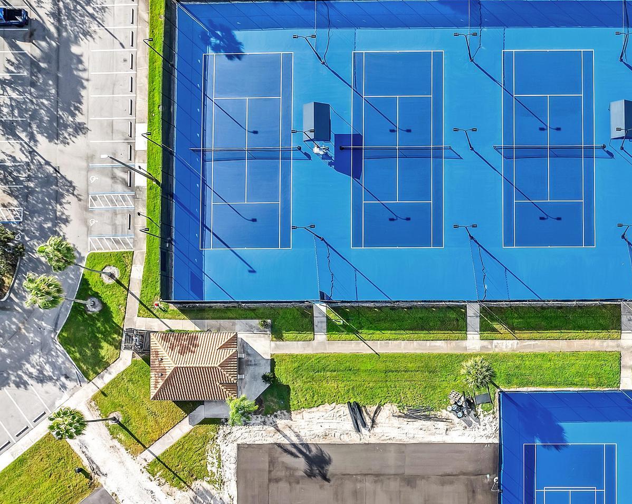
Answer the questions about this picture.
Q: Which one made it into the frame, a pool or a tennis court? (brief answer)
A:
tennis court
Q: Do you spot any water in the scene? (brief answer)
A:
No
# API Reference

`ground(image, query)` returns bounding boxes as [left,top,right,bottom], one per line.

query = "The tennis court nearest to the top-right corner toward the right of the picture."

[496,50,605,248]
